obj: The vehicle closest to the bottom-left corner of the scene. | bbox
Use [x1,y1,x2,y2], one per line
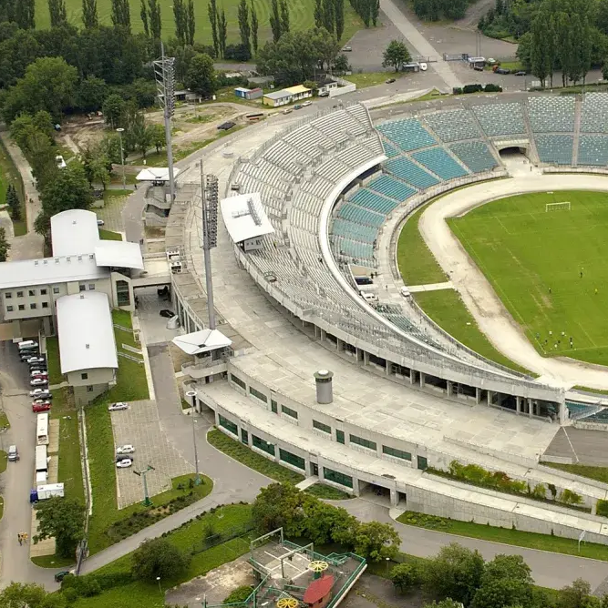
[50,567,73,581]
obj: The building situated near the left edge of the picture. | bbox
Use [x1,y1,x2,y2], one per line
[0,208,173,393]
